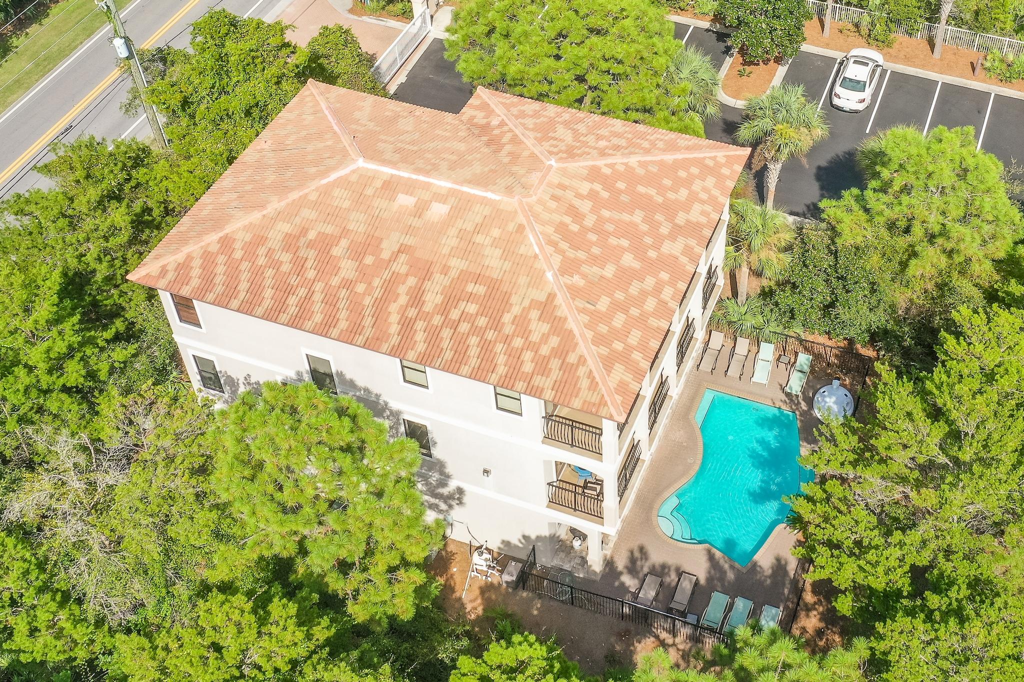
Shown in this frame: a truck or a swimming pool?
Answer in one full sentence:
Visible in the photo is a swimming pool.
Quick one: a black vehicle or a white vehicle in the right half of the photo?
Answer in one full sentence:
Looking in the right half of the photo, you will find a white vehicle.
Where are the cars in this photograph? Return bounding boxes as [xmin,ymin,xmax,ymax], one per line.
[827,51,884,118]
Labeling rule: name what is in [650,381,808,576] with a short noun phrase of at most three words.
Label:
swimming pool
